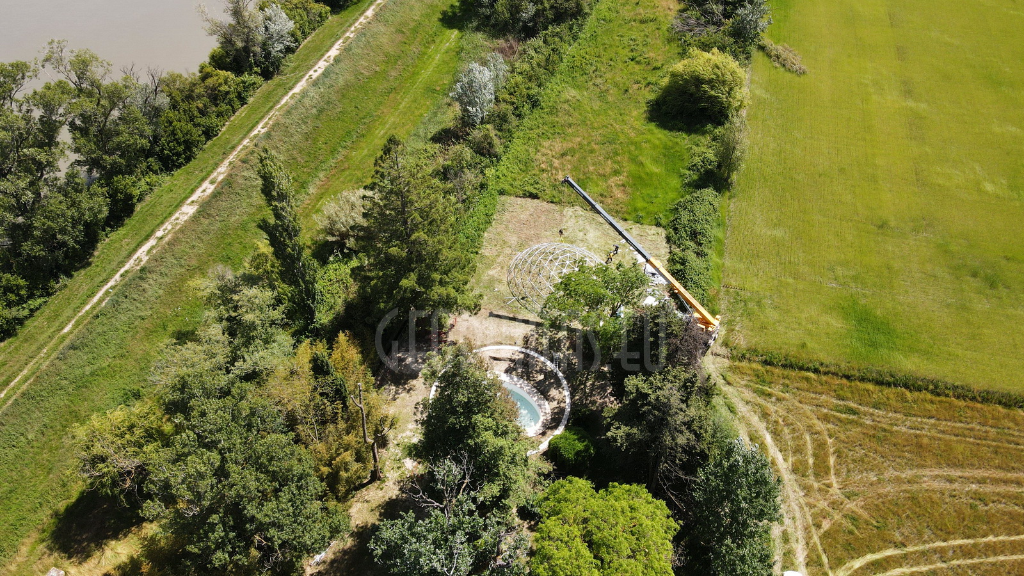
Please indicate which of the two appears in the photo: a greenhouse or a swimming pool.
swimming pool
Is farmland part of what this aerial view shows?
Yes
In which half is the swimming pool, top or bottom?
bottom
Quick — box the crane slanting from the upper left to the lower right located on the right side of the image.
[559,173,723,382]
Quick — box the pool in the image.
[463,370,549,438]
